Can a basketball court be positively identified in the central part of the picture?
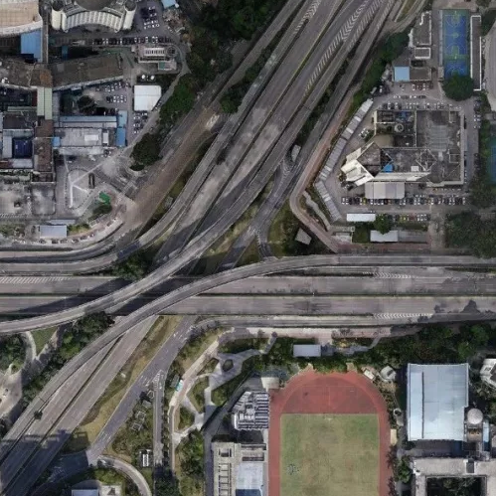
No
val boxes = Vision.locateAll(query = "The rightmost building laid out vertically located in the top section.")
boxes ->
[469,15,481,91]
